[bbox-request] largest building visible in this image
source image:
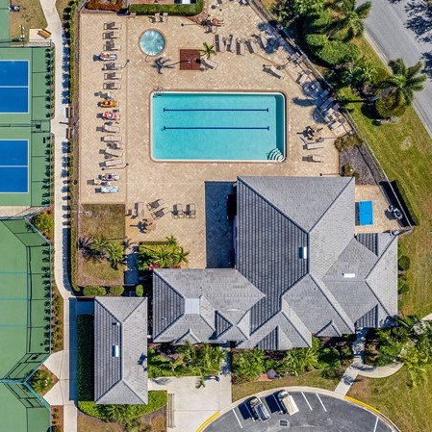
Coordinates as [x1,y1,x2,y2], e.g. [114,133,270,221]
[152,174,400,351]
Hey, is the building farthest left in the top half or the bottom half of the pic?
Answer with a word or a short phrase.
bottom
